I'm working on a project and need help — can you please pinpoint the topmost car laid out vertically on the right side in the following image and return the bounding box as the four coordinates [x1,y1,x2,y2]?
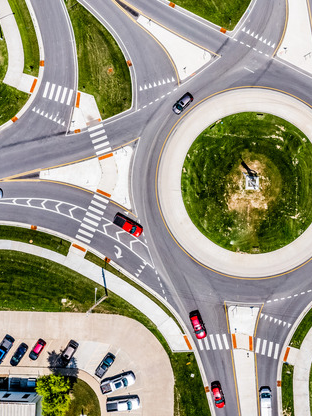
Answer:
[191,310,206,338]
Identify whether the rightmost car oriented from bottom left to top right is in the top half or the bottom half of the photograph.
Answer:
top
